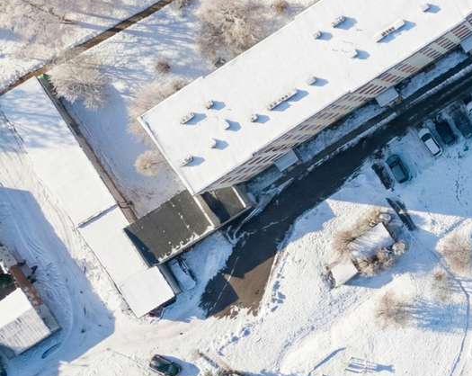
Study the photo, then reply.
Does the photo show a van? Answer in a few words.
Yes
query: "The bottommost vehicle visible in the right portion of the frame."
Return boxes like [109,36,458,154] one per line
[388,155,409,182]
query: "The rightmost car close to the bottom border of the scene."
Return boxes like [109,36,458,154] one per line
[149,356,183,375]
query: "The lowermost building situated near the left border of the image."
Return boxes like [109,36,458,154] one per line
[0,288,61,365]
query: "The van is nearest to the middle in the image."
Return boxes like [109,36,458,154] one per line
[170,258,198,290]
